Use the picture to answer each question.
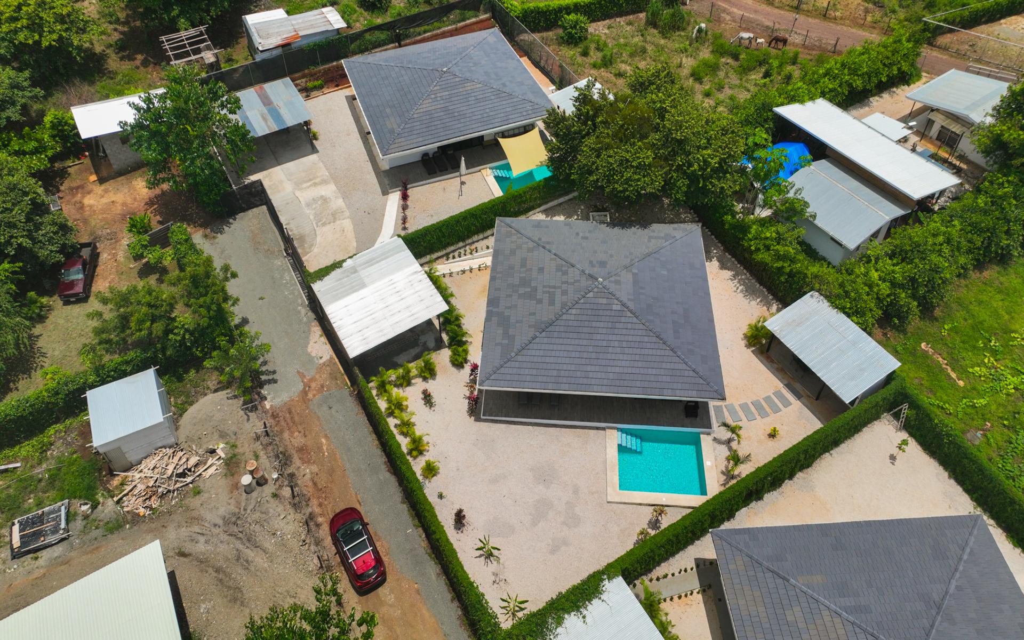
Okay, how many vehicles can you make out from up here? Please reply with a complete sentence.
I count 2 vehicles.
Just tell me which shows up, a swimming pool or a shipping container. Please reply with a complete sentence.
The one in the frame is a swimming pool.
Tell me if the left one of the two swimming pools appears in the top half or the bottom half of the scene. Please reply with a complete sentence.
It is in the top half that the left one of the two swimming pools appears.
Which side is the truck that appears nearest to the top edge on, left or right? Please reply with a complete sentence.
The truck that appears nearest to the top edge sits on the left side.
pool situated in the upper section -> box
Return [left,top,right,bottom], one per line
[482,152,565,198]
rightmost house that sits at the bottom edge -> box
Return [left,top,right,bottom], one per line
[710,513,1024,640]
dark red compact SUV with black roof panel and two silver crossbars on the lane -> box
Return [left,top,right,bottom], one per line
[332,511,386,599]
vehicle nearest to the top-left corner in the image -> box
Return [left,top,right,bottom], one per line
[60,242,106,302]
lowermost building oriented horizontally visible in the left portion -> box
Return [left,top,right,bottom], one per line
[0,540,215,640]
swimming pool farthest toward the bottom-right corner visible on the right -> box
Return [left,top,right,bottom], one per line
[606,427,718,507]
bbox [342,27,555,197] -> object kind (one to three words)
house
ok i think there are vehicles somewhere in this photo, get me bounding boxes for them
[60,242,106,302]
[332,511,386,599]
